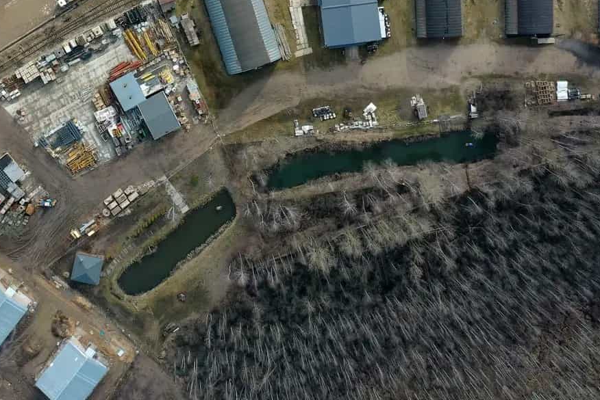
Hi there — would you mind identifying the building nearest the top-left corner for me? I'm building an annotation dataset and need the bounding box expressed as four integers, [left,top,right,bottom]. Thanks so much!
[111,71,147,111]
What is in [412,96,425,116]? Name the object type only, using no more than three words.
vehicle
